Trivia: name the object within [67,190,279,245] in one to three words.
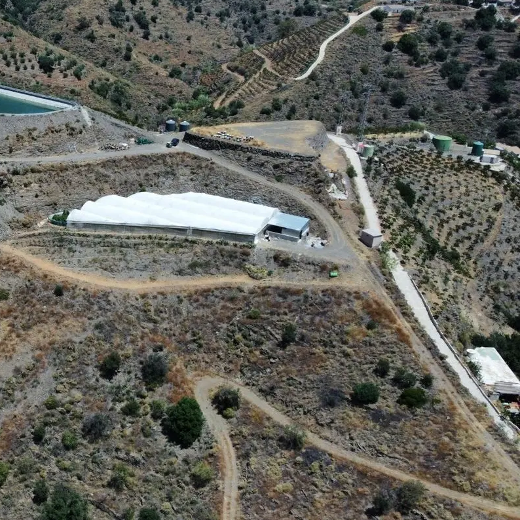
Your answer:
greenhouse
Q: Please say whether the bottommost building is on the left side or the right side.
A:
right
